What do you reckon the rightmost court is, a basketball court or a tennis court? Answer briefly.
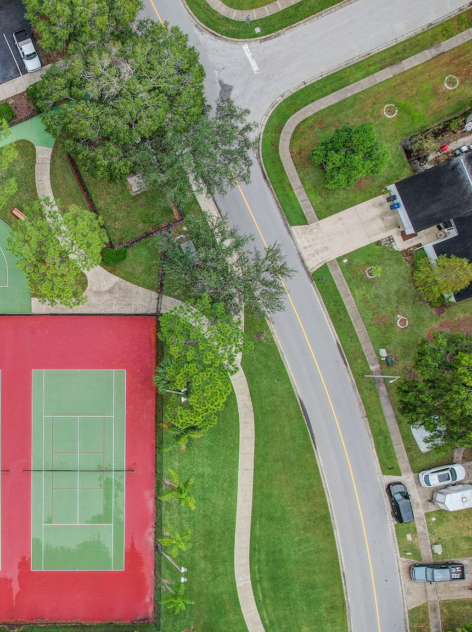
tennis court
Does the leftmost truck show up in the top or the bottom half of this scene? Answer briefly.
top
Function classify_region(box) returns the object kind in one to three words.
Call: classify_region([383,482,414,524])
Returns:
car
